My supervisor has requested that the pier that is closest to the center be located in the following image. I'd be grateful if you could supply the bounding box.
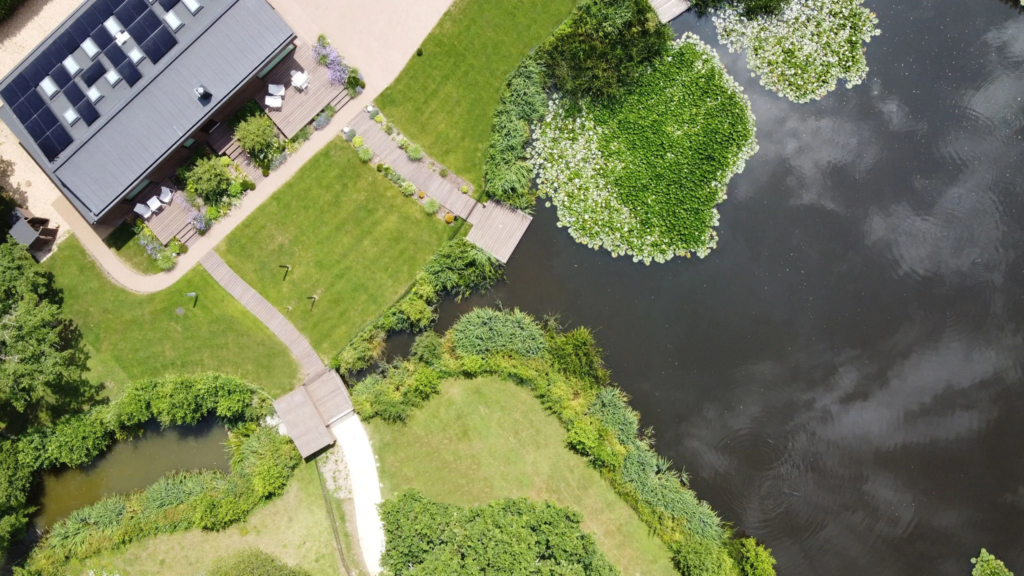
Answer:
[465,201,533,264]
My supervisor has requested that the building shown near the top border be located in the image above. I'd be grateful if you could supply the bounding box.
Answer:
[0,0,311,229]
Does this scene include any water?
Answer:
Yes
